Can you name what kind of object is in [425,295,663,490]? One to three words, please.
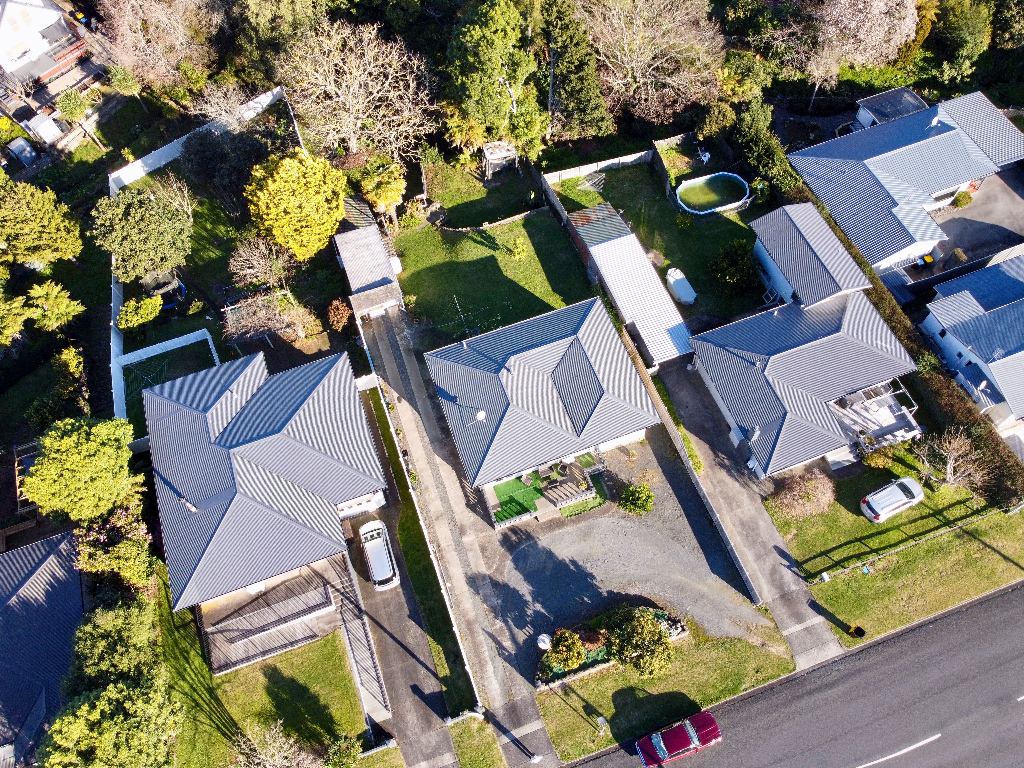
house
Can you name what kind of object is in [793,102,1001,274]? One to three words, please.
house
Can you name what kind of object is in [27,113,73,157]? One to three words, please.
shed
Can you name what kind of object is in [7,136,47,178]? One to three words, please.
shed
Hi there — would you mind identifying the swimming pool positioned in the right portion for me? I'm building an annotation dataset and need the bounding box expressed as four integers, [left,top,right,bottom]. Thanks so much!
[674,172,749,222]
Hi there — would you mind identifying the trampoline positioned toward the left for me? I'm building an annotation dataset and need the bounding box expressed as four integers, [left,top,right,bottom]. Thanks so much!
[139,267,191,315]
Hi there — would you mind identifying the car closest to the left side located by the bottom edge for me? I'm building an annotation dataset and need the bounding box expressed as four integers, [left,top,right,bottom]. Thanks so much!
[635,710,724,768]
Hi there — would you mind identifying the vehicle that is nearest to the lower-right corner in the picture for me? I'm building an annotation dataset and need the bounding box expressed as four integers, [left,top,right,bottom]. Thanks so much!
[860,478,922,524]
